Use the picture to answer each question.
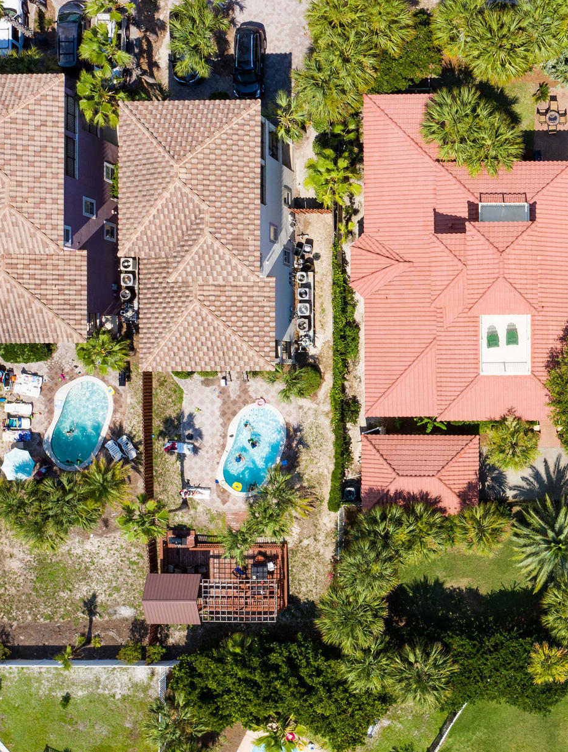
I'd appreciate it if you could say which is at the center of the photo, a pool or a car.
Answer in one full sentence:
The one visible at the center of the photo is a pool.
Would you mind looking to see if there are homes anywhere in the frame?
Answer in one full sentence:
Yes, there is a home in the image.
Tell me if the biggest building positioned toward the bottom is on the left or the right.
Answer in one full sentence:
The biggest building positioned toward the bottom sits on the right side.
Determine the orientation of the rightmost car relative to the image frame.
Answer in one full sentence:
The rightmost car runs from top to bottom in the image.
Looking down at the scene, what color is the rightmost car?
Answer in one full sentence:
The rightmost car looks black in the image.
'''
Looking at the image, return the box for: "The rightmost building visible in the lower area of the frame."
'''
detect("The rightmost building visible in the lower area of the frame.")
[359,434,480,517]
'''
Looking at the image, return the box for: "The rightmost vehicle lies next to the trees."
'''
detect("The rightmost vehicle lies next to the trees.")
[228,18,271,105]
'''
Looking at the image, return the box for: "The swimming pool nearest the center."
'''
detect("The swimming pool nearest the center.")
[217,404,286,496]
